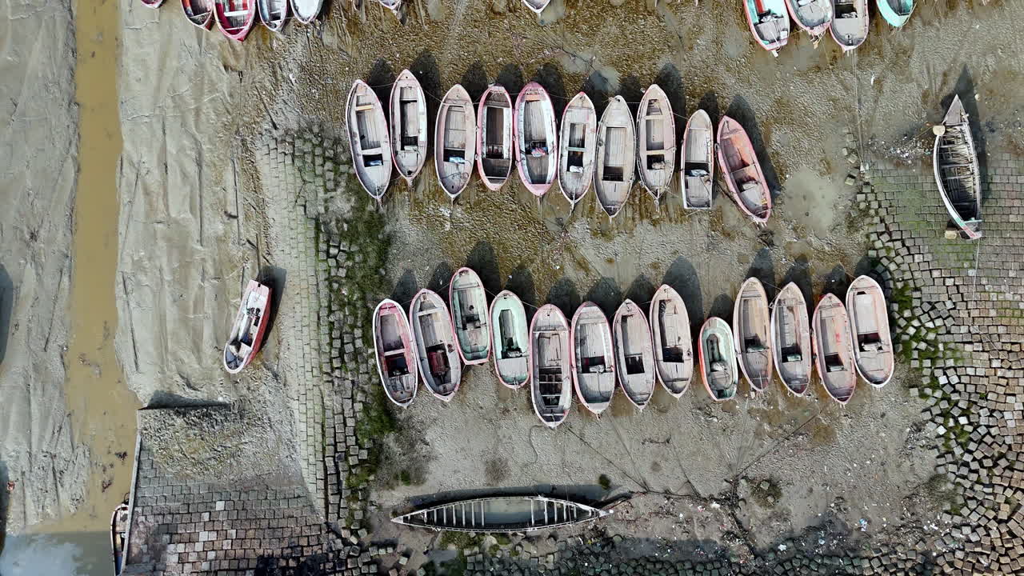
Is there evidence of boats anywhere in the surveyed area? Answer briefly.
Yes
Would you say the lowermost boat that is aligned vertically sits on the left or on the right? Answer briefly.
left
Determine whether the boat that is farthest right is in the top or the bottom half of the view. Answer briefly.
top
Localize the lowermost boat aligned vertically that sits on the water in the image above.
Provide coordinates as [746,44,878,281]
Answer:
[107,500,128,576]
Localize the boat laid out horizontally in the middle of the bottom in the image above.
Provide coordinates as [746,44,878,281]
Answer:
[393,493,609,535]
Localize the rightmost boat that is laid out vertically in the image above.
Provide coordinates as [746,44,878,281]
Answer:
[936,94,987,234]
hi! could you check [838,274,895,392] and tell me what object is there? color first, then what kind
white boat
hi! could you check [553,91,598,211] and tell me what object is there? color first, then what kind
white boat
